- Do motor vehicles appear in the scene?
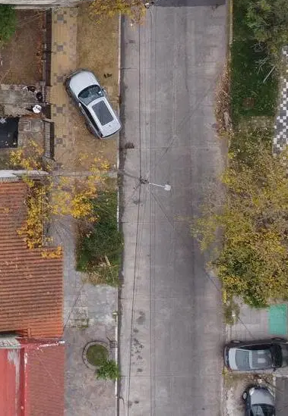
Yes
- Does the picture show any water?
No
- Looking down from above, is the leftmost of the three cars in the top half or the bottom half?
top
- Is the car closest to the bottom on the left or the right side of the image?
right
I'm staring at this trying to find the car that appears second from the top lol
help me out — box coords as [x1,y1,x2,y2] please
[222,336,288,373]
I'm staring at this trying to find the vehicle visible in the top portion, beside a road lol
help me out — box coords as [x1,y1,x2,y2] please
[65,69,123,140]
